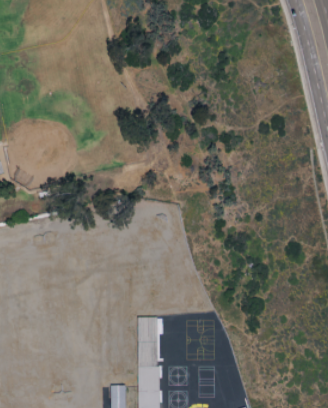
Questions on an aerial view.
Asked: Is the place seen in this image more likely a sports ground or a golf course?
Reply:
sports ground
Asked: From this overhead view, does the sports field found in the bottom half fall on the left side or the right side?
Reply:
left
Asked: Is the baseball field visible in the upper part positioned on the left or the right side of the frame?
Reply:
left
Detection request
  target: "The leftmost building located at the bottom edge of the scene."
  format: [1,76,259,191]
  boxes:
[111,386,126,408]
